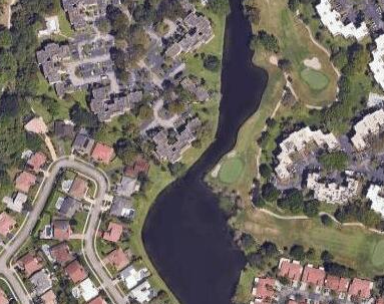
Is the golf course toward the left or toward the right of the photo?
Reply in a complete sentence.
You can find the golf course on the right side of the picture.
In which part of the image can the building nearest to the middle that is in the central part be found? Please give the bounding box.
[153,116,206,165]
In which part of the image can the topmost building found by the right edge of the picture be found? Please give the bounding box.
[316,0,368,41]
